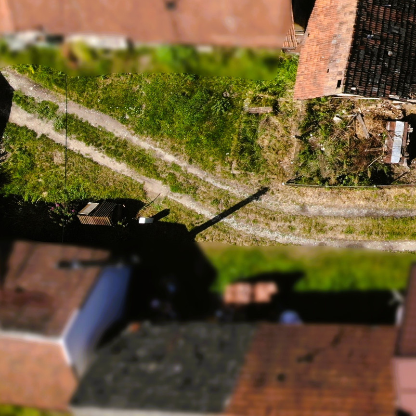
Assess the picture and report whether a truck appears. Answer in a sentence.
No, I can see no truck in this picture.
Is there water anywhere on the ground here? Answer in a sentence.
No, water can't be seen anywhere here.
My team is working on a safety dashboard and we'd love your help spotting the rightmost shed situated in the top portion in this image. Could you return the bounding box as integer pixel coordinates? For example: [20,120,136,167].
[380,119,416,169]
